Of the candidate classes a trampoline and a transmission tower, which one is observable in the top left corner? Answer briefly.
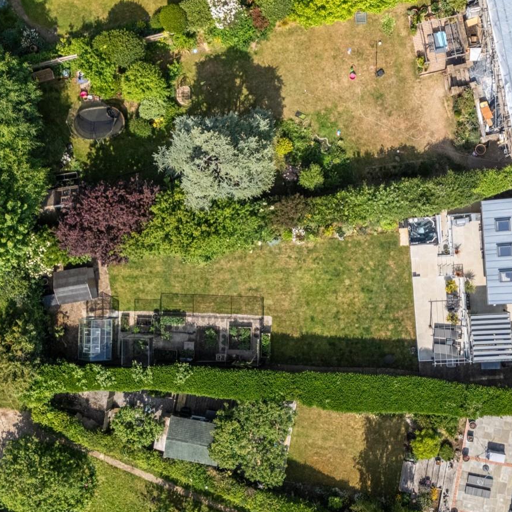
trampoline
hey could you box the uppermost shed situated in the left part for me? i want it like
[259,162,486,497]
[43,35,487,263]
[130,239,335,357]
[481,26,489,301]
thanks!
[54,267,98,305]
